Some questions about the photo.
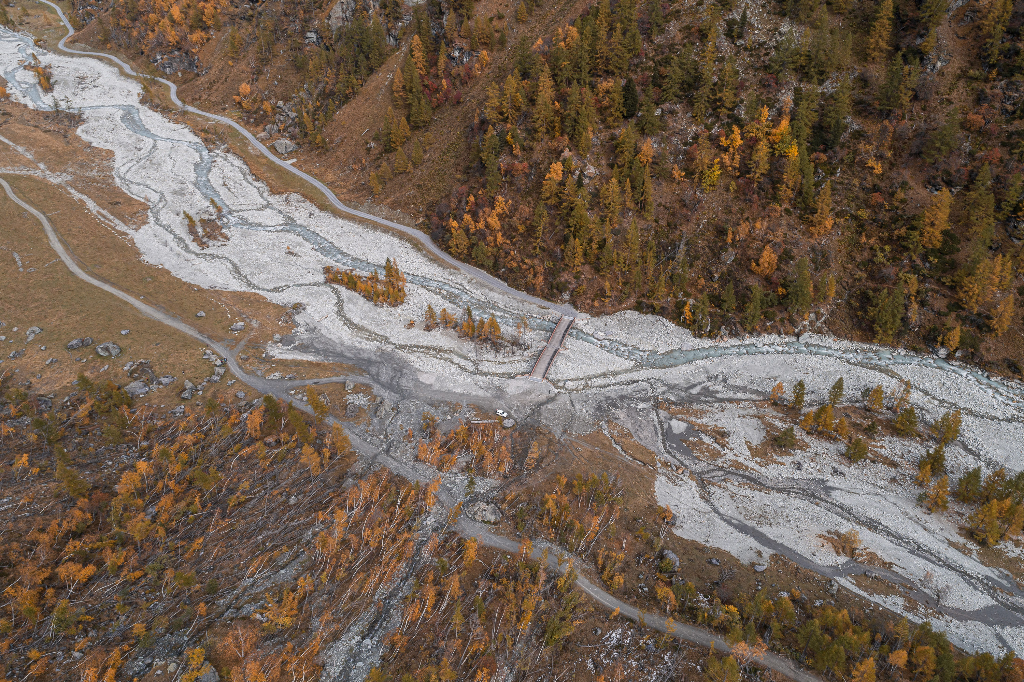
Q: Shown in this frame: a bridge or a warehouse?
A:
bridge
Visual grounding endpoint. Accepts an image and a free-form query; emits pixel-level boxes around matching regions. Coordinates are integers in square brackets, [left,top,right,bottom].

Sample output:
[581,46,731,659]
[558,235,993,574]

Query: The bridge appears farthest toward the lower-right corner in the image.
[522,313,581,388]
